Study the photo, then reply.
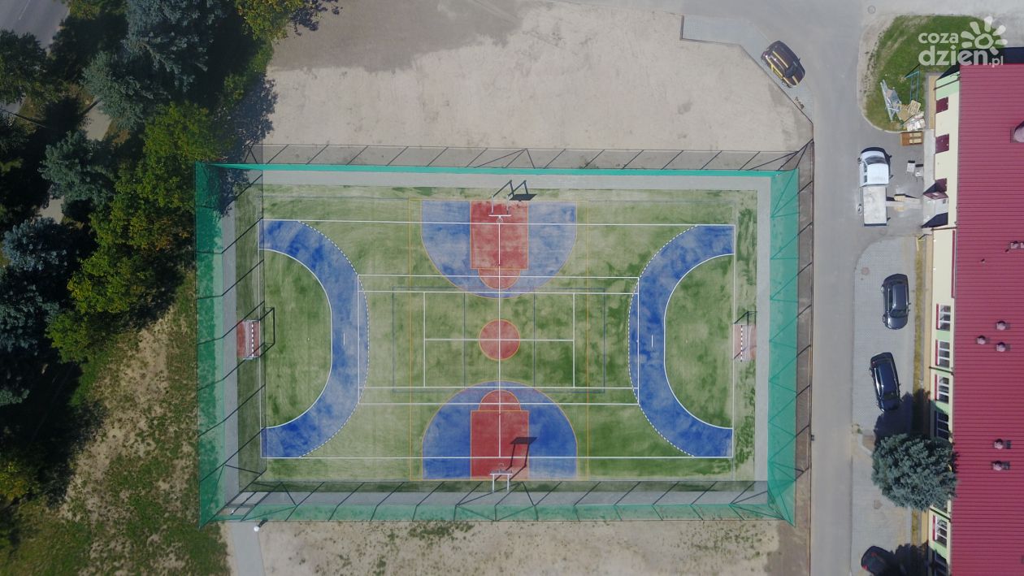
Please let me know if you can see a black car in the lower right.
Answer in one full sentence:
Yes, a black car appears in the lower right.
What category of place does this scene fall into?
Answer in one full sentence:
The picture captures a sports ground.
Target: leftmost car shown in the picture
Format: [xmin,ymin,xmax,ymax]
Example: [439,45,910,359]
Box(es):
[761,43,801,88]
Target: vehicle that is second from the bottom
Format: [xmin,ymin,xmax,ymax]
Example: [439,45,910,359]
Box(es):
[868,353,900,409]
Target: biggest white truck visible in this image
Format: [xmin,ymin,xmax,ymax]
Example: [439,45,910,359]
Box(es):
[858,150,889,224]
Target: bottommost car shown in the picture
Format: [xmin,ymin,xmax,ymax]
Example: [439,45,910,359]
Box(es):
[860,549,905,576]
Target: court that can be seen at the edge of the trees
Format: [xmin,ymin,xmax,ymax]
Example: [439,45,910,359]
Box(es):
[222,171,771,505]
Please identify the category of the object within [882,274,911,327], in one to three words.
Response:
car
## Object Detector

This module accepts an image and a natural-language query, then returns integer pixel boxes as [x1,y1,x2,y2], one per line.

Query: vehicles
[860,549,905,576]
[761,43,801,88]
[858,150,889,224]
[868,353,900,409]
[882,274,911,327]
